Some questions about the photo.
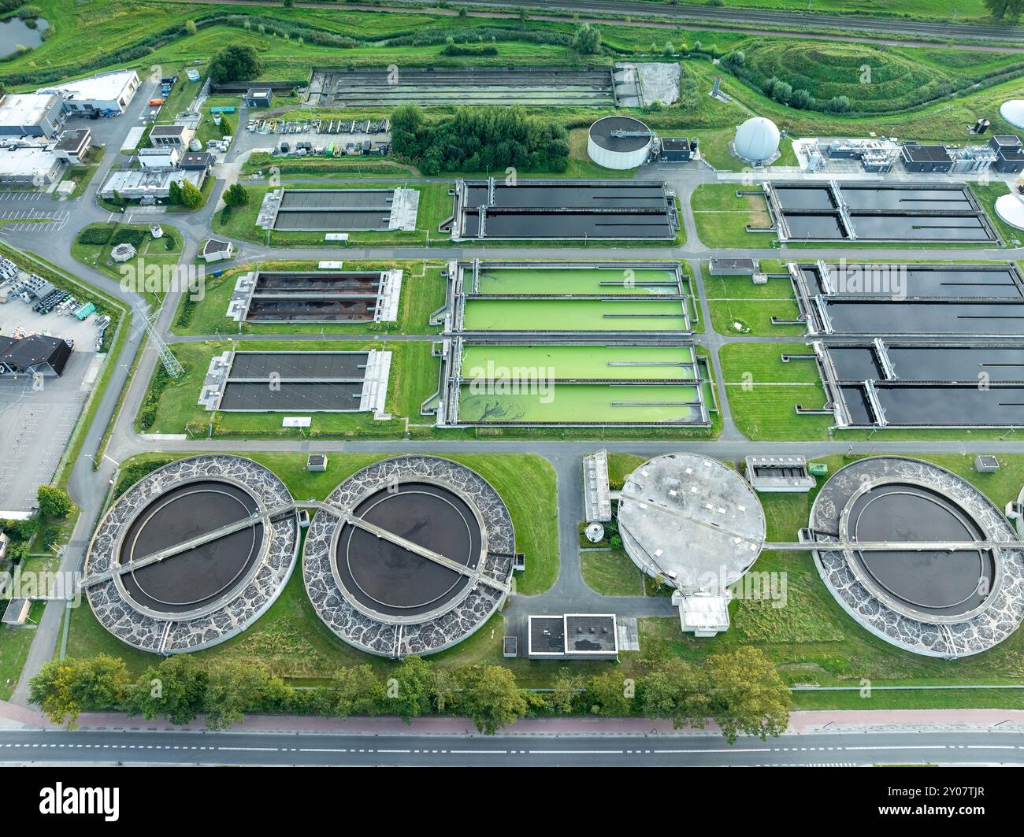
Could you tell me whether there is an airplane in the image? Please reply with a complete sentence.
No, I can see no airplane in this picture.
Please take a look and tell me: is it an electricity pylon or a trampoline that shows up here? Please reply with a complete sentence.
I can see an electricity pylon in this picture.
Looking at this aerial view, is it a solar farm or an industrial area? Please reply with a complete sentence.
The picture captures an industrial area.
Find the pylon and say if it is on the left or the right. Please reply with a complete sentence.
The pylon is on the left side of the image.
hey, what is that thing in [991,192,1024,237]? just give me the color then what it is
white storage tank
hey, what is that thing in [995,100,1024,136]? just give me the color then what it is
white storage tank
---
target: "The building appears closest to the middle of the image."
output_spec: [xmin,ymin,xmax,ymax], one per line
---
[582,448,611,526]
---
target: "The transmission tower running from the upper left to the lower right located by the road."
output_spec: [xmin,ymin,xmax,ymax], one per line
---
[107,291,184,381]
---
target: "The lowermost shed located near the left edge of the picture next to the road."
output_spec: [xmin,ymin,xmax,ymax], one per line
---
[1,598,32,625]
